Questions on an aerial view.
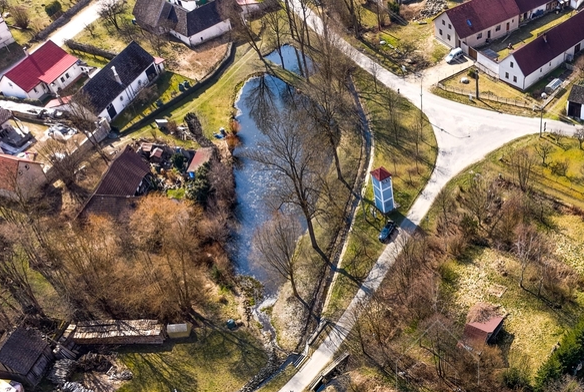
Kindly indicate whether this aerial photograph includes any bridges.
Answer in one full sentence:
Yes, there's a bridge here.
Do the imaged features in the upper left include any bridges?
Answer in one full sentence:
No, no bridge can be made out in the upper left.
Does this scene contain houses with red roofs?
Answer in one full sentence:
Yes, the photo shows a house with a red roof.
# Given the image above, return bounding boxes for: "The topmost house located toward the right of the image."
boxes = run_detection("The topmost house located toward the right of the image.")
[431,0,519,49]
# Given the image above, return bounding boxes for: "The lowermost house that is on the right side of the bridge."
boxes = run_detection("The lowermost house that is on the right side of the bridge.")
[464,303,503,351]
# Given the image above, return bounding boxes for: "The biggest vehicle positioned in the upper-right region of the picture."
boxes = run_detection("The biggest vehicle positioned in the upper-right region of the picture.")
[444,43,464,59]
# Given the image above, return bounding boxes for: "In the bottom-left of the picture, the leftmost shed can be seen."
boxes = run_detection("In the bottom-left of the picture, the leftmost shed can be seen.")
[0,325,55,383]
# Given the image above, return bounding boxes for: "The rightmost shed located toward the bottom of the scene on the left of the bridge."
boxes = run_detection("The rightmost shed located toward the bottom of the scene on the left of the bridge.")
[167,322,191,339]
